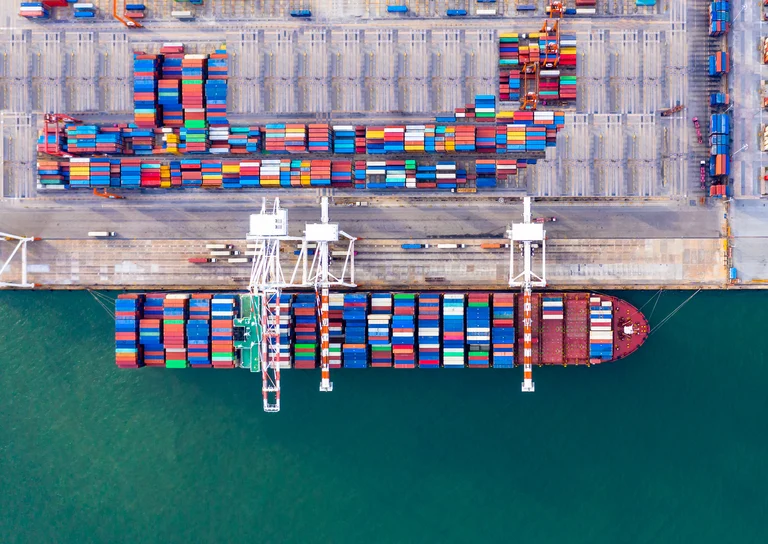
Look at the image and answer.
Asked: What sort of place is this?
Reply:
port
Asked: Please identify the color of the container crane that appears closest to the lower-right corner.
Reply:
white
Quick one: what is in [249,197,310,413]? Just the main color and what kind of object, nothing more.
white container crane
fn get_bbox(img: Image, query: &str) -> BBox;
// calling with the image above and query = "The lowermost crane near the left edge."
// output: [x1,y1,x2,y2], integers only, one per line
[0,233,43,287]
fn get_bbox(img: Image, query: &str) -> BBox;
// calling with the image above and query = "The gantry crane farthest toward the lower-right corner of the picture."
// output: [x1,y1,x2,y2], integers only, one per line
[498,197,552,392]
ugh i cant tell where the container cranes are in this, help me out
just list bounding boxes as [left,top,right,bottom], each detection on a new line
[498,197,552,392]
[249,197,310,413]
[518,62,542,107]
[542,0,566,21]
[538,19,562,68]
[44,112,81,158]
[112,0,146,26]
[306,197,364,392]
[0,233,43,287]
